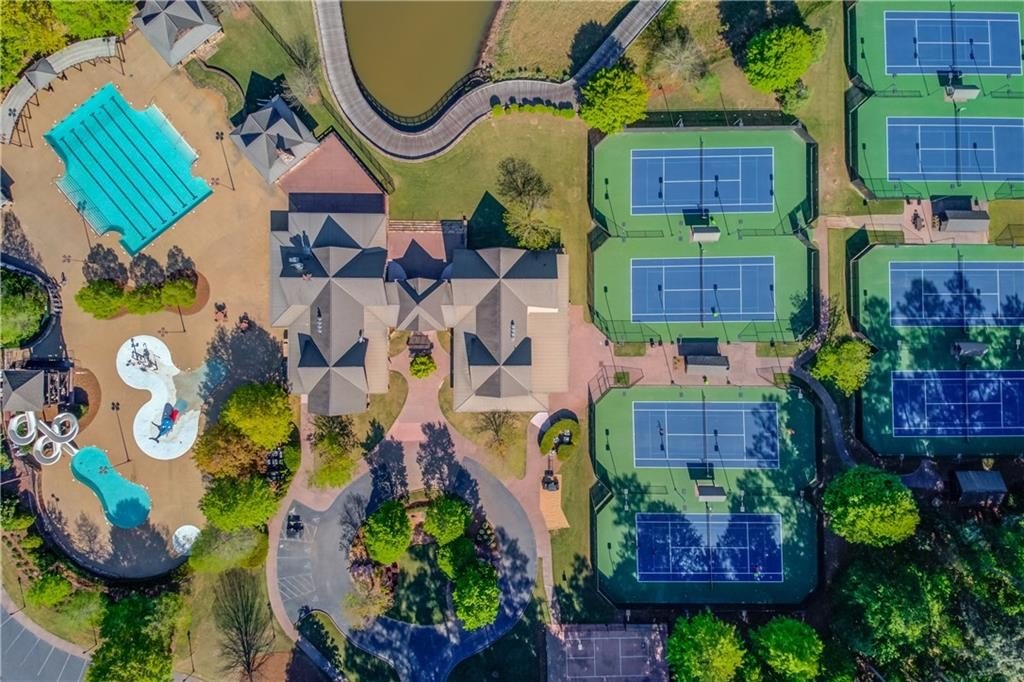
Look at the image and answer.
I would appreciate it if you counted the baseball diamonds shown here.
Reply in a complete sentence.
There are no baseball diamonds in this view.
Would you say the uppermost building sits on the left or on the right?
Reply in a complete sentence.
The uppermost building is on the left side of the image.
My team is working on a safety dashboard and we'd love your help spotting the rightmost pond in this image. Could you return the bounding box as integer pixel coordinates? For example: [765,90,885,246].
[341,0,497,134]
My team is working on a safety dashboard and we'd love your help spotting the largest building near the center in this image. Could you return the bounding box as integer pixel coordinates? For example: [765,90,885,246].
[271,213,569,416]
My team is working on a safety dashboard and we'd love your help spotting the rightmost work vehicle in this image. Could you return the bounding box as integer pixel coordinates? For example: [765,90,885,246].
[542,454,557,490]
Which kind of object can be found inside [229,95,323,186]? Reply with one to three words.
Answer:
building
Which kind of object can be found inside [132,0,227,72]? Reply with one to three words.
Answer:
building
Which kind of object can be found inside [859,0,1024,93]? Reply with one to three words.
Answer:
tennis court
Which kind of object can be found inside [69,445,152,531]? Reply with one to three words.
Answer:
swimming pool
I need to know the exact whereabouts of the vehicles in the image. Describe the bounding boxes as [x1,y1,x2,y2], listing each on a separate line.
[285,526,304,538]
[542,454,557,490]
